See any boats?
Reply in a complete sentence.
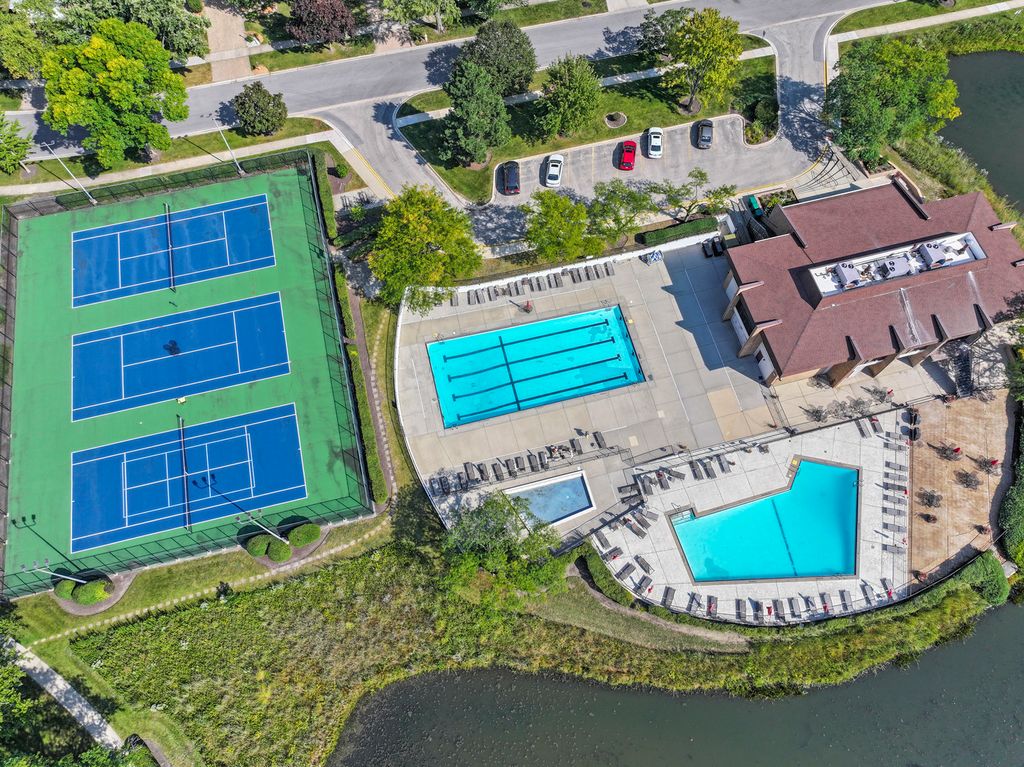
No, the photo shows no boat.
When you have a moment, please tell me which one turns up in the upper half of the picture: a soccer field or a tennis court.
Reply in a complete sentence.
The one visible in the upper half of the picture is a tennis court.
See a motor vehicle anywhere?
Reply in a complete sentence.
Yes, you can see a motor vehicle in this photo.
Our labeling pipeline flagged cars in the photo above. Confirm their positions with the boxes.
[647,128,665,159]
[503,162,521,194]
[619,140,638,171]
[546,155,564,187]
[696,118,715,150]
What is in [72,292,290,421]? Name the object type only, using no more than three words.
tennis court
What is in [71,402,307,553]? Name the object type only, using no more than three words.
tennis court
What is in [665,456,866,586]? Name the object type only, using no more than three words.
swimming pool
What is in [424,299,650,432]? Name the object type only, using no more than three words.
swimming pool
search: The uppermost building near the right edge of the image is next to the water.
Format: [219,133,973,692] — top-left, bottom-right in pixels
[722,176,1024,387]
